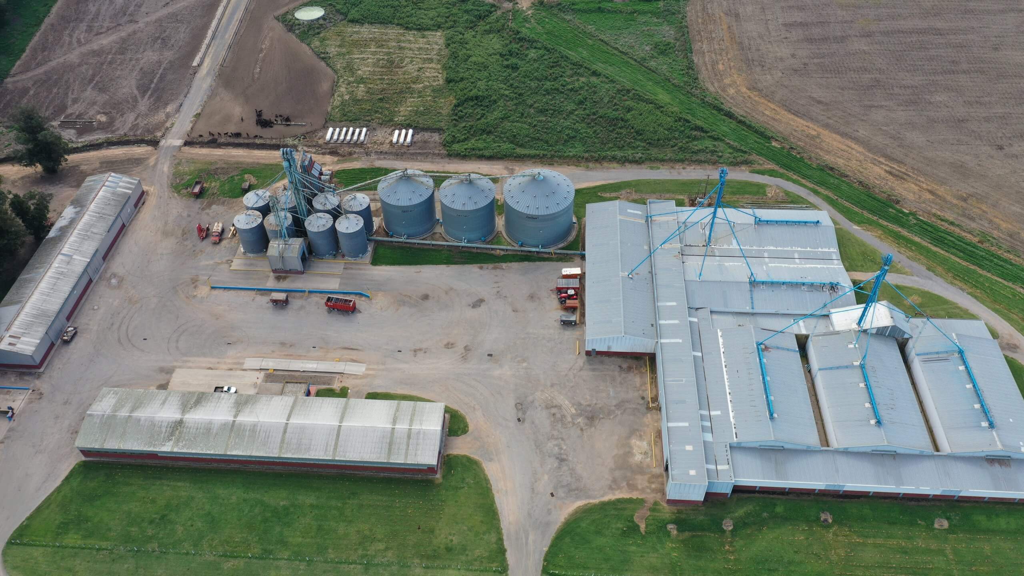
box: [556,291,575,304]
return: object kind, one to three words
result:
vehicle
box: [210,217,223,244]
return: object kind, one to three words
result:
vehicle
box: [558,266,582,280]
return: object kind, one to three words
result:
camper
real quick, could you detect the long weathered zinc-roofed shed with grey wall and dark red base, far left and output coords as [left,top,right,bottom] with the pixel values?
[0,172,149,373]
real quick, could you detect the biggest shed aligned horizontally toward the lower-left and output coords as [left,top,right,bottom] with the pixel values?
[75,387,451,478]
